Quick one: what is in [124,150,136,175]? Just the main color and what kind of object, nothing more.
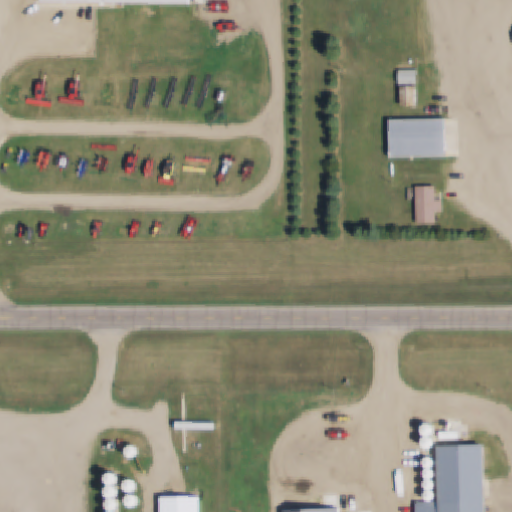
red vehicle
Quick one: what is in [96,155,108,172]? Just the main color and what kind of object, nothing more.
red vehicle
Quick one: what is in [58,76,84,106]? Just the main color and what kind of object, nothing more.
red work vehicle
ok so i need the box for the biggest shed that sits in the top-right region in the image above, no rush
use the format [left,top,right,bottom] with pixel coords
[388,118,444,157]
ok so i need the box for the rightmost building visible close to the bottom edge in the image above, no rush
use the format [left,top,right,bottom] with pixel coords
[436,446,485,512]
